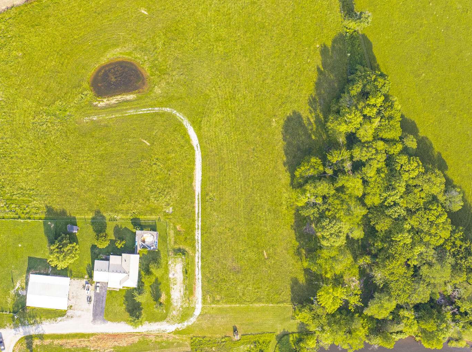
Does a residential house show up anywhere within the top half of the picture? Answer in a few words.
No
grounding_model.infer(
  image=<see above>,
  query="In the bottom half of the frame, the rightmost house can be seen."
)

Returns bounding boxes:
[93,254,141,292]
